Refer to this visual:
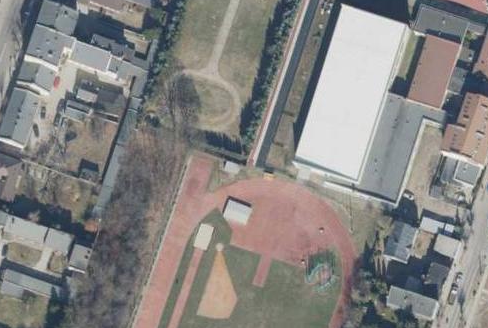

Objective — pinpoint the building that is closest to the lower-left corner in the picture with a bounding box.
[1,267,60,299]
